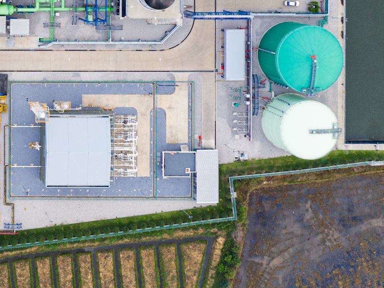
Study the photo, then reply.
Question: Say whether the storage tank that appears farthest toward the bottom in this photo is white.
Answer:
Yes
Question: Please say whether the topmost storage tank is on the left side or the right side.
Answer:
right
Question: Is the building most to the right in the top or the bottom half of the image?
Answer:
top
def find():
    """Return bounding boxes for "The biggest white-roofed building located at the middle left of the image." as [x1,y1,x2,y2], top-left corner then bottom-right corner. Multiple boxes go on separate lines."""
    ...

[41,112,111,187]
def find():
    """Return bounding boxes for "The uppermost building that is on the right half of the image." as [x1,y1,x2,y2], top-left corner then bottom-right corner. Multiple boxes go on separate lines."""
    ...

[218,29,245,81]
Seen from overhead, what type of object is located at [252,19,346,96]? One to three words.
storage tank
